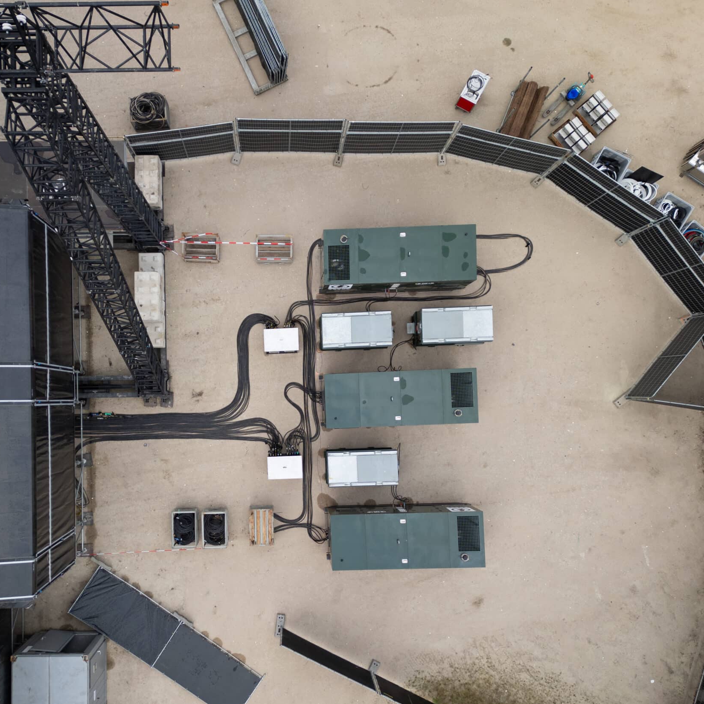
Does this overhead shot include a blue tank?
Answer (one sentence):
No, I can't see a single blue tank in this photo.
